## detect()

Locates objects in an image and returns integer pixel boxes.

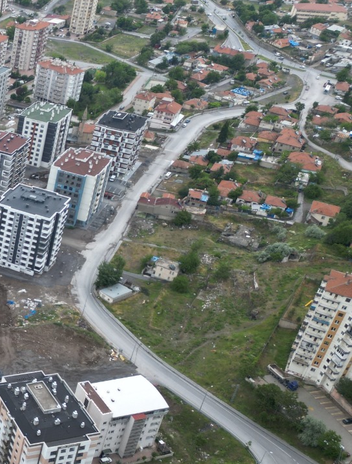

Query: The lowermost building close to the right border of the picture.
[292,266,352,389]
